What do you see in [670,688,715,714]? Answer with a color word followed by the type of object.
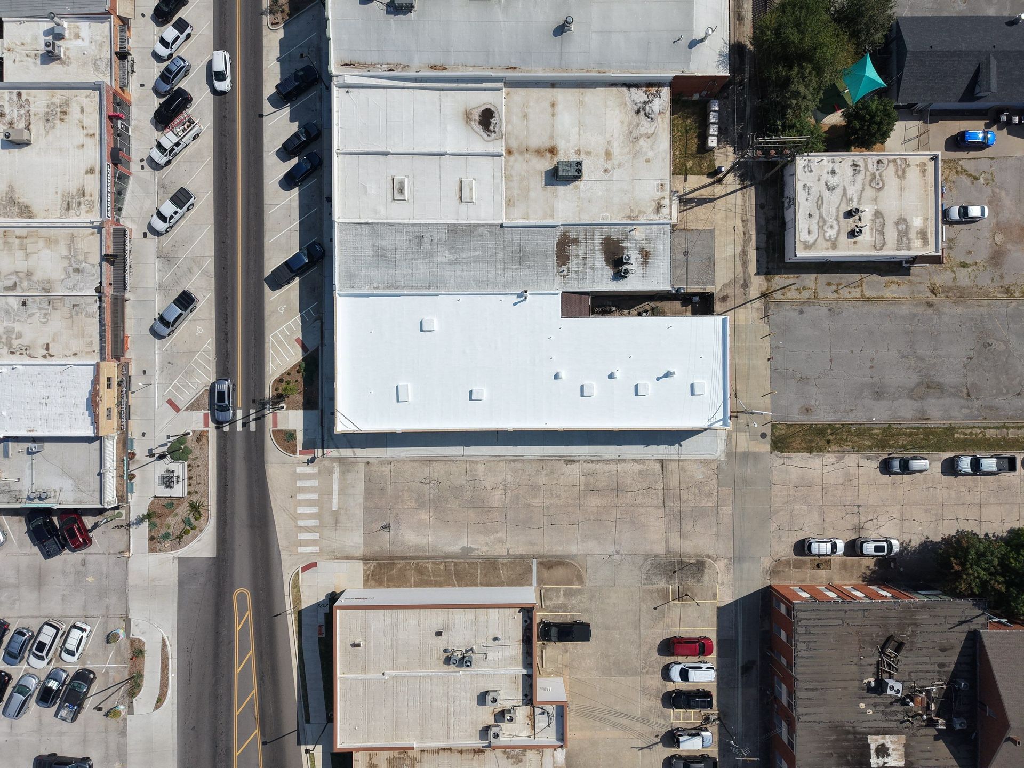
black car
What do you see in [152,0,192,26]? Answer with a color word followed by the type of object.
black car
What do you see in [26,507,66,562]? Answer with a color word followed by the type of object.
black truck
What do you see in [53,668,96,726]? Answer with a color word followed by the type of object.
black truck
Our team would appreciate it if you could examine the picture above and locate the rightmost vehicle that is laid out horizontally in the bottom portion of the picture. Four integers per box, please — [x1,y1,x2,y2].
[955,454,1019,476]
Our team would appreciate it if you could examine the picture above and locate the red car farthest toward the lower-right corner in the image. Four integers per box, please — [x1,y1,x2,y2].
[669,636,714,660]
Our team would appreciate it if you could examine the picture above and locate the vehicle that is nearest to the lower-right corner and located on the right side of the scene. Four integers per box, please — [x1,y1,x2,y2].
[854,538,900,560]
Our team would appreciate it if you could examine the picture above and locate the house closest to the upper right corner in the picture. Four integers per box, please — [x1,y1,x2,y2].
[889,12,1024,113]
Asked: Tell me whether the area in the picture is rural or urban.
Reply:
urban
